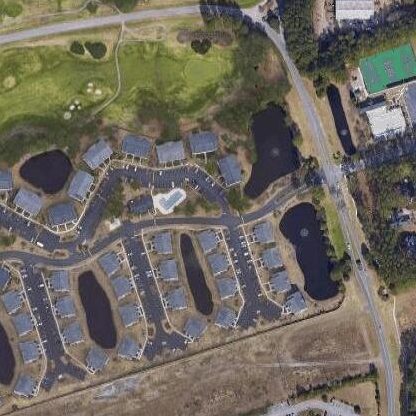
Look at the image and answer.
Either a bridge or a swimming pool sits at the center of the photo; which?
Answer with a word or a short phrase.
swimming pool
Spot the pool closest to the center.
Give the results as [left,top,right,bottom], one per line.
[153,187,186,214]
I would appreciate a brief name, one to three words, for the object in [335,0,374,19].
building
